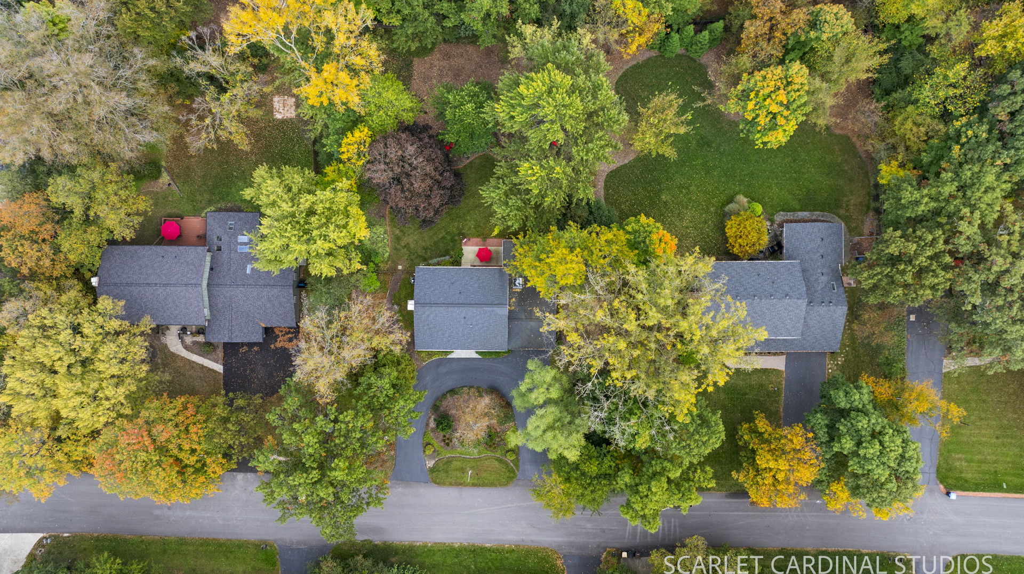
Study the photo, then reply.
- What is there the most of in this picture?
trees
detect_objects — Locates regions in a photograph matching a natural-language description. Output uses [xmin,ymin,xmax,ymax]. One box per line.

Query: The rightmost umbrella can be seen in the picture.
[476,247,492,262]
